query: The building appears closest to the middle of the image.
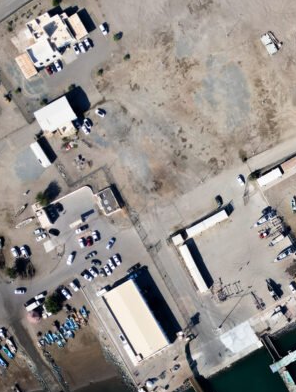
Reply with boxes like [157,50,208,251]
[97,187,125,216]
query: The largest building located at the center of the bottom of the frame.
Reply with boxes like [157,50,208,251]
[103,277,171,361]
